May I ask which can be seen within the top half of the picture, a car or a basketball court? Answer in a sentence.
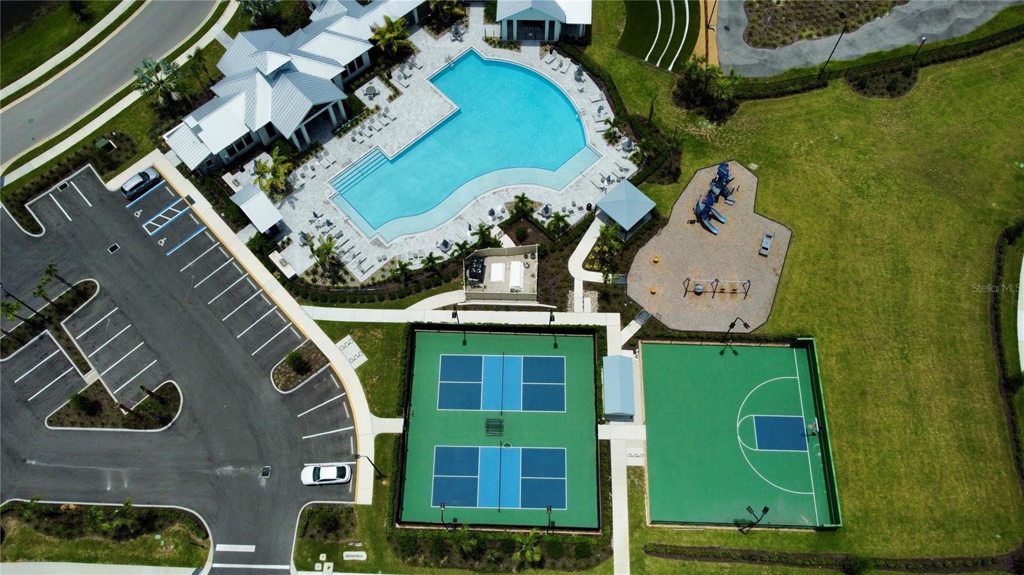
What appears within the top half of the picture is a car.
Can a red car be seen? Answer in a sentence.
No, there appears to be no red car in this shot.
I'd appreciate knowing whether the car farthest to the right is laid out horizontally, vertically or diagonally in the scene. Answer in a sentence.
What the image shows is the car farthest to the right lying horizontally.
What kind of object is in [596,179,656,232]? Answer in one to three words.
gazebo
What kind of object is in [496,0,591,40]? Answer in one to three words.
building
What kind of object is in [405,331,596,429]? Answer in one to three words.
sports court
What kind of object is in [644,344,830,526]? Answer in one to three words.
basketball court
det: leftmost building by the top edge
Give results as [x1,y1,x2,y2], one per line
[160,0,438,179]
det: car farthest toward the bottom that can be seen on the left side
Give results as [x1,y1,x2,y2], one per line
[301,460,351,484]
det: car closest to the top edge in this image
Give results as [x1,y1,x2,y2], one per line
[117,168,161,200]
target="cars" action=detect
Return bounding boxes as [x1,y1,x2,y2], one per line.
[117,168,161,200]
[301,460,351,484]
